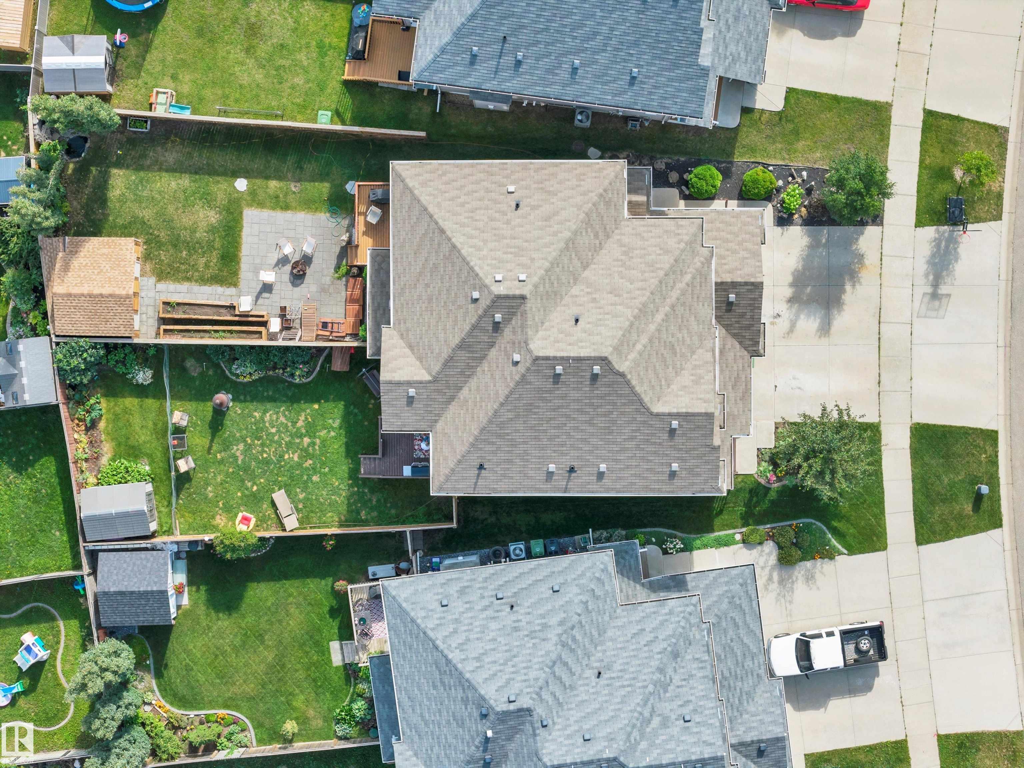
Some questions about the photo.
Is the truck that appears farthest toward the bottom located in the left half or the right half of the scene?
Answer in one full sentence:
The truck that appears farthest toward the bottom appears in the right half of the scene.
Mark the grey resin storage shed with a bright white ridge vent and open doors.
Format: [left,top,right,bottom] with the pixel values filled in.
[42,35,118,95]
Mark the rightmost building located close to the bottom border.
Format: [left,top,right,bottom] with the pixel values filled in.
[367,531,797,768]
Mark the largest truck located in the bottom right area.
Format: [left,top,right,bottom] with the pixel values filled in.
[765,619,892,678]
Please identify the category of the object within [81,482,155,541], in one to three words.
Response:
shed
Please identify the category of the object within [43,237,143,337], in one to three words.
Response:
shed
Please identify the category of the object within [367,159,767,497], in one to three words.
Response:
house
